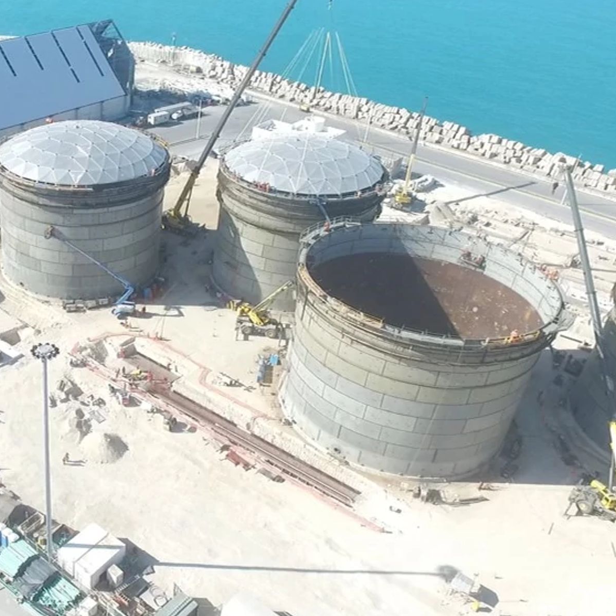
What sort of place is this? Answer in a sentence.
It's an industrial area.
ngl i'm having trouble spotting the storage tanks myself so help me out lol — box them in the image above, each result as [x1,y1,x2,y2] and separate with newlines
[277,217,583,483]
[560,261,616,462]
[207,130,390,317]
[0,118,173,304]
